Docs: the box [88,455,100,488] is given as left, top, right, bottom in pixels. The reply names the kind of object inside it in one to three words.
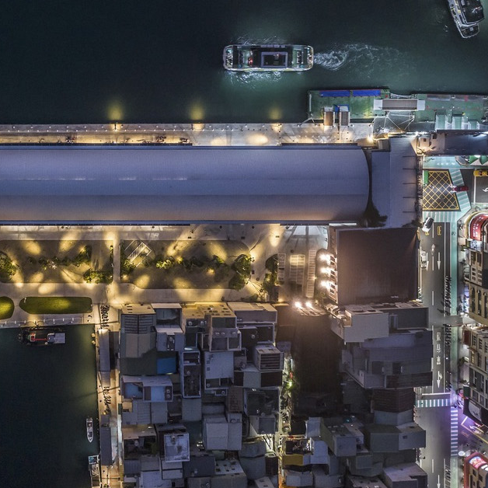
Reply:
ship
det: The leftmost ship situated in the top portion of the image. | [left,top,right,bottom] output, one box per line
[223,45,316,72]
